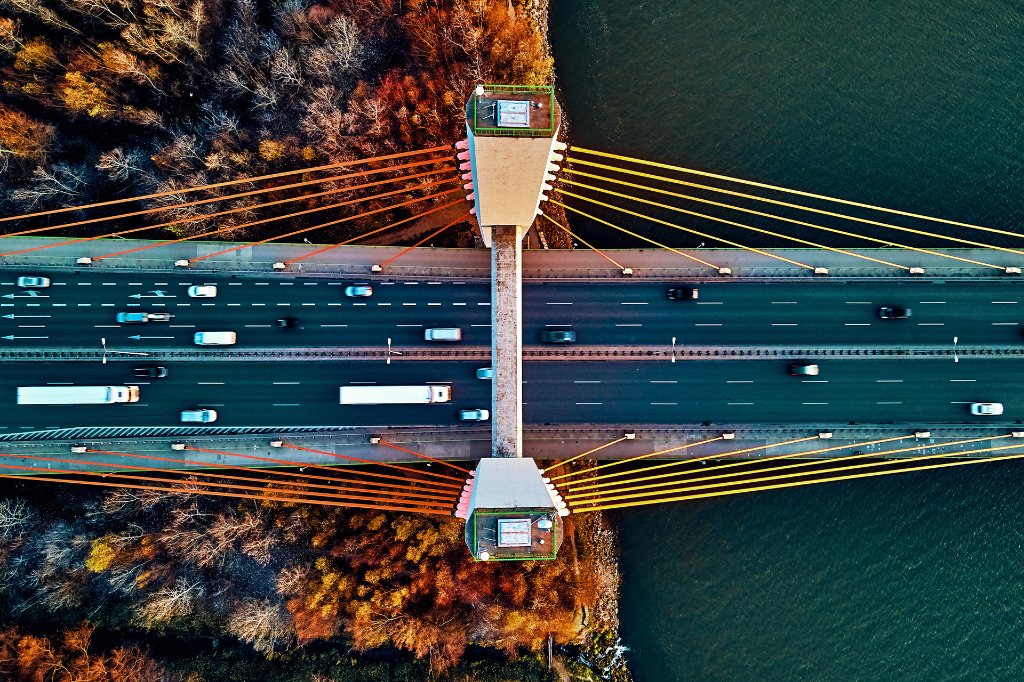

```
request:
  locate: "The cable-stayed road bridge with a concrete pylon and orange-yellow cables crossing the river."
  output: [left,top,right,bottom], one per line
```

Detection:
[0,85,1024,561]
